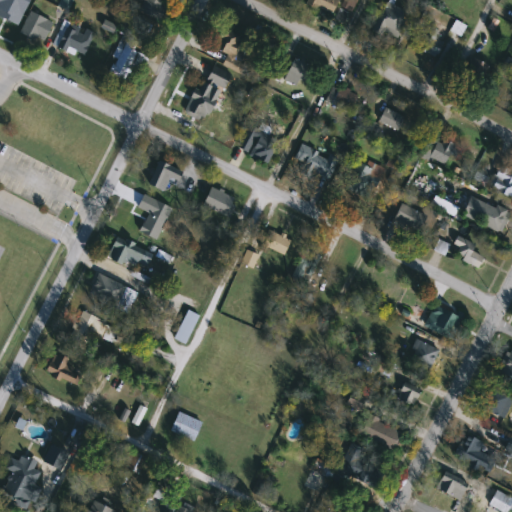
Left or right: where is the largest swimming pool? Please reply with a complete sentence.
The largest swimming pool is on the left side of the image.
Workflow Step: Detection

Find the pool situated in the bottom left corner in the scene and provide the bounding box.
[22,422,49,444]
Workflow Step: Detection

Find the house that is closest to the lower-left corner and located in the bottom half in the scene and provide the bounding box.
[4,456,44,512]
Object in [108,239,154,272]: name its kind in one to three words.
house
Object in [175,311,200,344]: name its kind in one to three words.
barn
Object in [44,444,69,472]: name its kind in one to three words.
building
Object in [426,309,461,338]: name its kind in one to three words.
house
